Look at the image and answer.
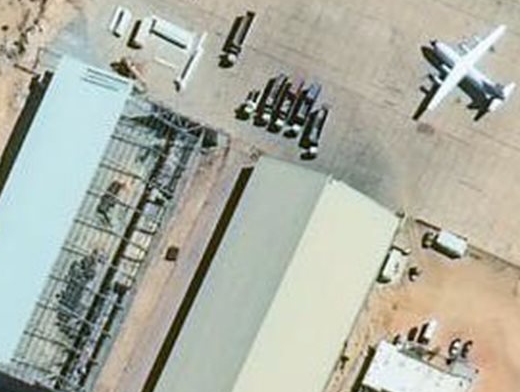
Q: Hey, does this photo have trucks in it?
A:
Yes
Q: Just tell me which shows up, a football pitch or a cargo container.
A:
cargo container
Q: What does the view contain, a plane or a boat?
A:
plane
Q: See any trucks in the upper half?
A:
Yes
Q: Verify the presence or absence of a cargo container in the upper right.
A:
No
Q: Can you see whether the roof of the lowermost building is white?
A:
Yes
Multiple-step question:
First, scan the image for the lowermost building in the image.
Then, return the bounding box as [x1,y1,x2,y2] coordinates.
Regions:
[364,333,483,392]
